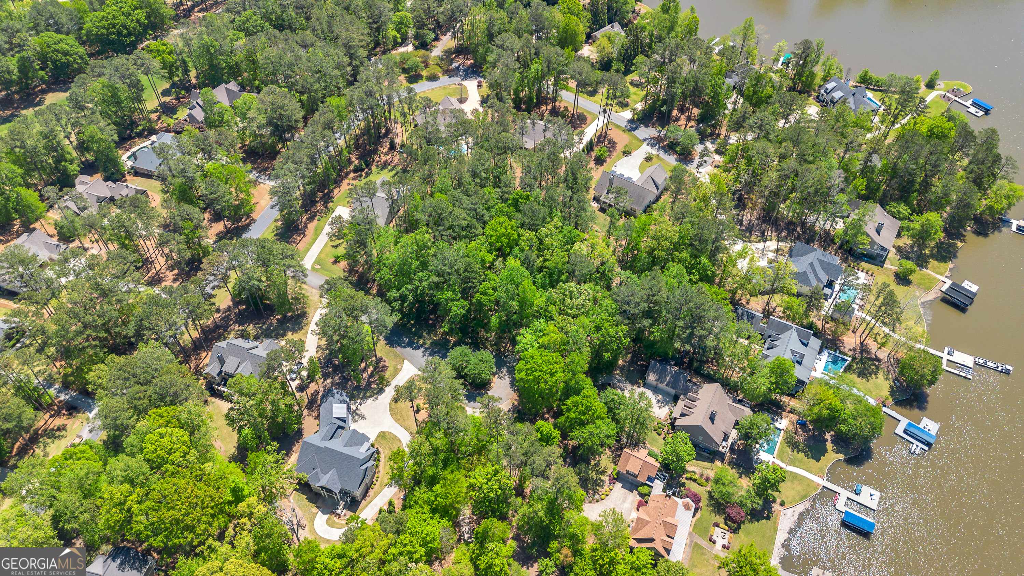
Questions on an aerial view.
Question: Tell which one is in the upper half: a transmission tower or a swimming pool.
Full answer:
It is a swimming pool that can be seen in the upper half.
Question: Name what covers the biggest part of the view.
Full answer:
Most of the picture is covered by trees.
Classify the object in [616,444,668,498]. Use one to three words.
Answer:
building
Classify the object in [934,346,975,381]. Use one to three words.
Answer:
pier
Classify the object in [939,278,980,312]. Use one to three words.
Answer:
pier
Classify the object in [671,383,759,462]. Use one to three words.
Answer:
house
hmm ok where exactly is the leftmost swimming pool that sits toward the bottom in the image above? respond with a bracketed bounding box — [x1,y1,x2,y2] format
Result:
[753,415,789,462]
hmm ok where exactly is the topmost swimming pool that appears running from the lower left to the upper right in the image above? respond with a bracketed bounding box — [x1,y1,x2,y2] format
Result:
[122,143,145,163]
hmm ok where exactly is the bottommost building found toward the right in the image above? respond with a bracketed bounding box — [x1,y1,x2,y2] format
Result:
[623,489,697,563]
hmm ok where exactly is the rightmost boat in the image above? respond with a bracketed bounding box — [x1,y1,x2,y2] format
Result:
[974,355,1014,374]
